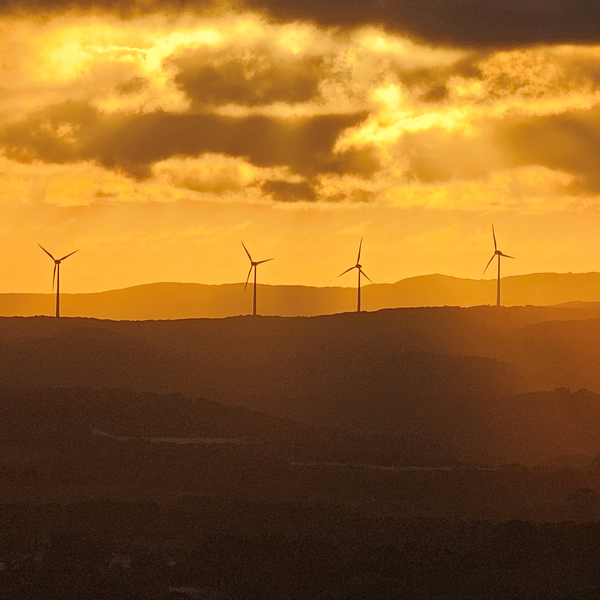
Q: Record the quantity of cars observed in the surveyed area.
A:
0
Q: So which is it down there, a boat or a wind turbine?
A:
wind turbine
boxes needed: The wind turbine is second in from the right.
[339,242,372,311]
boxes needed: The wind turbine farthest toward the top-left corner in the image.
[38,243,78,318]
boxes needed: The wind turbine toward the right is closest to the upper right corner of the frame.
[483,225,516,305]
